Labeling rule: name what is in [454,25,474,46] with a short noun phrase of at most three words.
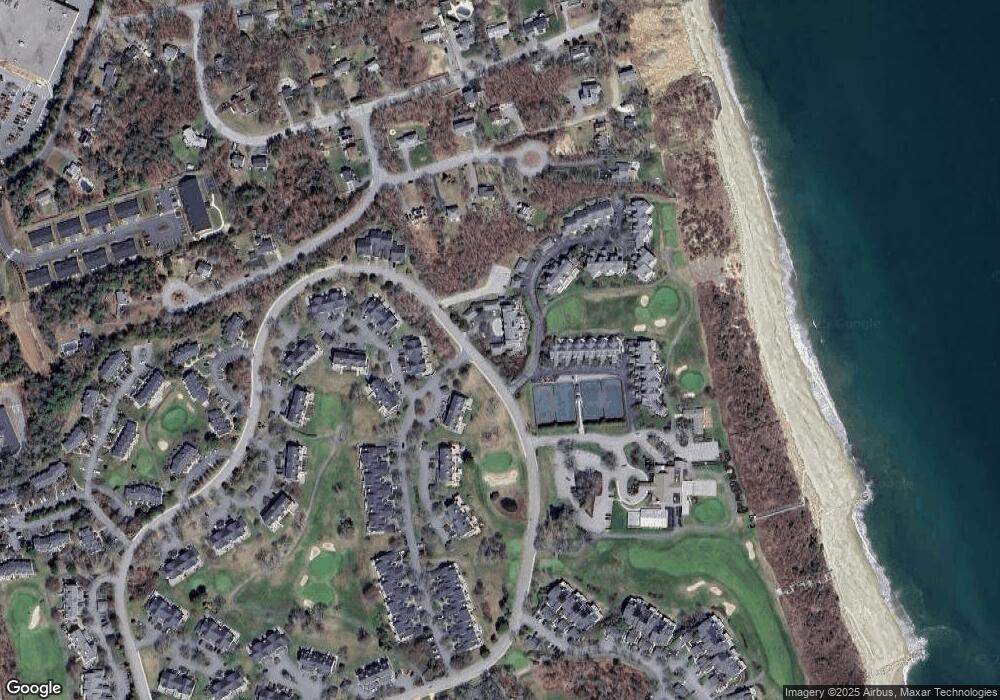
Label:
house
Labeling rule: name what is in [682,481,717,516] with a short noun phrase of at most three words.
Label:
building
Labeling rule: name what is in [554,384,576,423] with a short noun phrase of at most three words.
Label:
tennis court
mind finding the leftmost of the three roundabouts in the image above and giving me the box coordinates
[162,279,196,314]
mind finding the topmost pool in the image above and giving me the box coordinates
[452,2,475,19]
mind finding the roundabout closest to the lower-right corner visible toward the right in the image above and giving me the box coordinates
[616,469,649,503]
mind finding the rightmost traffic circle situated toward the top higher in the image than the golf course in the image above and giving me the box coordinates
[514,140,549,175]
